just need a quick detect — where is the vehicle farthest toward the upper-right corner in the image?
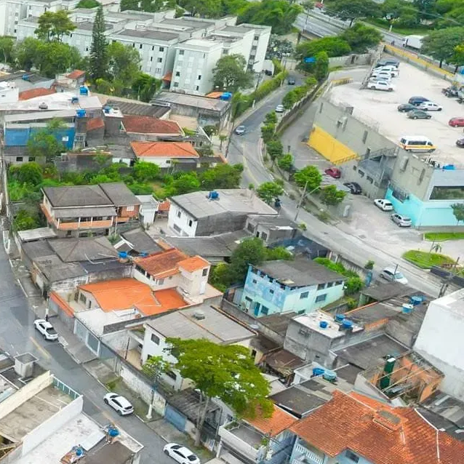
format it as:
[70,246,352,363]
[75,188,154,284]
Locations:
[406,32,424,44]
